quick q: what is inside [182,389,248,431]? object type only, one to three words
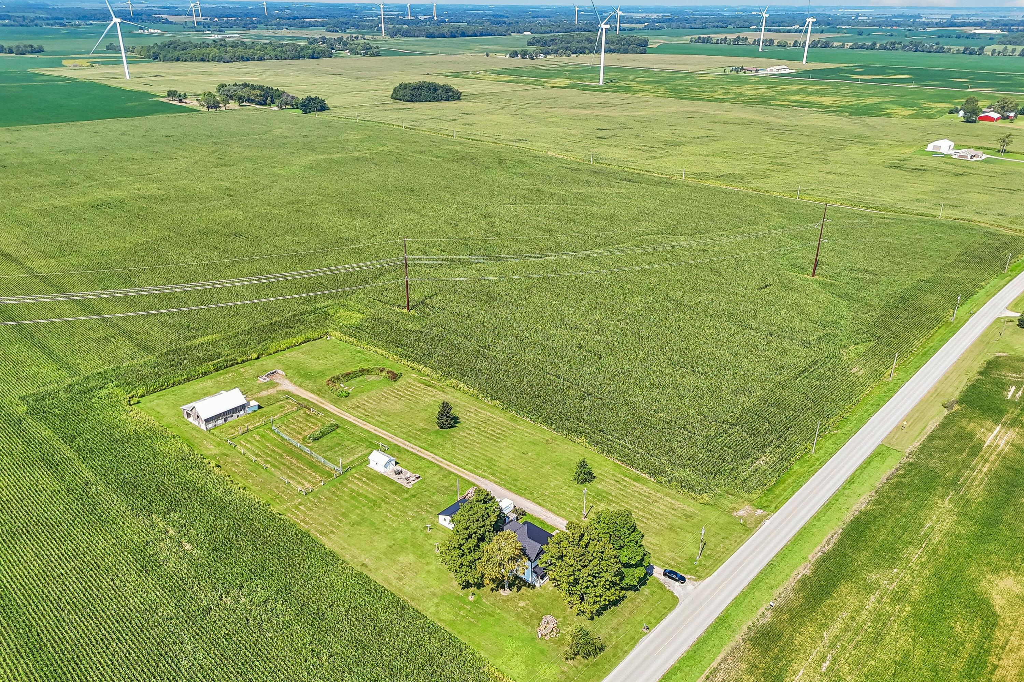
barn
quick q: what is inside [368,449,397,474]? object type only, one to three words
shed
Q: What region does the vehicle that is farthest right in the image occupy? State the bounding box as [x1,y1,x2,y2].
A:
[665,570,686,584]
